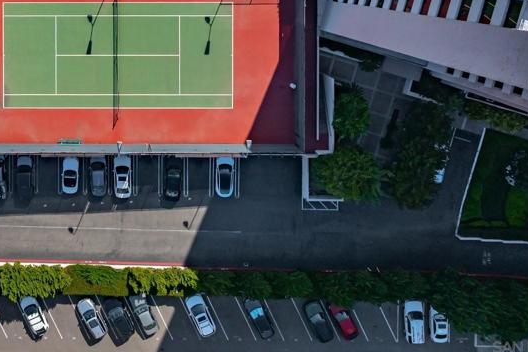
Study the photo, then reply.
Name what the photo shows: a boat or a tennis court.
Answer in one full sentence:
It is a tennis court that can be seen here.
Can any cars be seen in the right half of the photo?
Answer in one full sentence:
Yes, you'll find a car in the right half of the photo.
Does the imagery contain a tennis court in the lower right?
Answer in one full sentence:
No, looking in the lower right, there is no tennis court.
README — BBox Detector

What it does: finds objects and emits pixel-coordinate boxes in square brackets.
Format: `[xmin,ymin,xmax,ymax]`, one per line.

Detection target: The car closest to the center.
[216,157,234,196]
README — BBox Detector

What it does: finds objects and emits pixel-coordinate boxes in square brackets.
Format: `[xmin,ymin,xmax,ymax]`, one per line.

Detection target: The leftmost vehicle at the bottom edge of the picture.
[20,297,49,340]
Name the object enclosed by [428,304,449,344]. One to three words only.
car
